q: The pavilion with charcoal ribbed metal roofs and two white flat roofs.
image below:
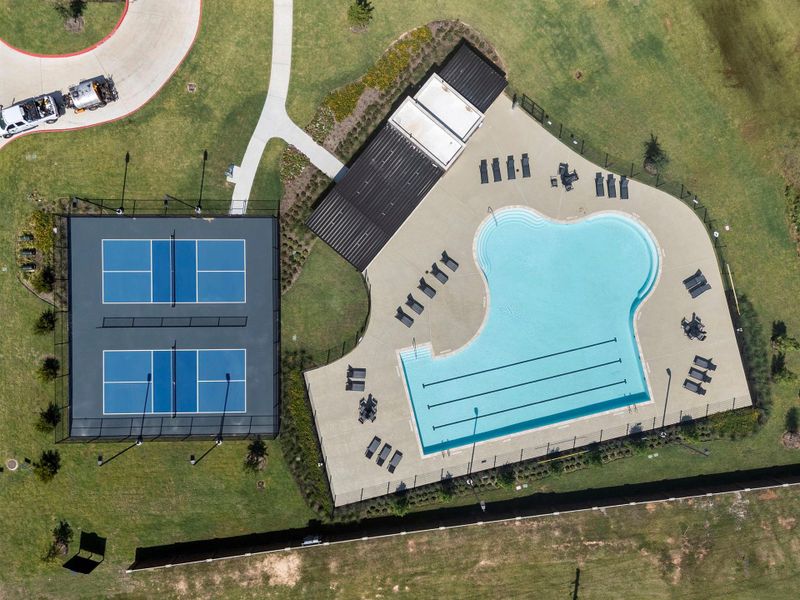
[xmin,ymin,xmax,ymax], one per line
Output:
[305,44,509,272]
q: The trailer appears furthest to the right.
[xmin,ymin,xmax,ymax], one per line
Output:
[60,77,120,116]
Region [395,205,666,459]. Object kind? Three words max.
swimming pool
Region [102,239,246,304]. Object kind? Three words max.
sports court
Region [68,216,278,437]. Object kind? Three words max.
sports court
